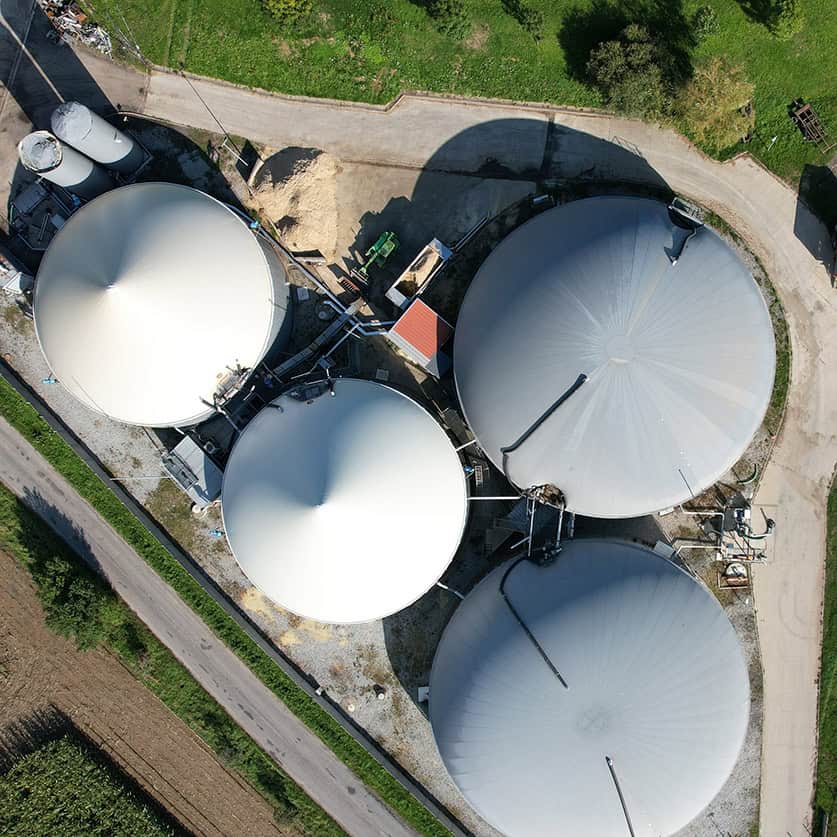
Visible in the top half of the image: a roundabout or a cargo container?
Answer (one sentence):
The feature located in the top half of the image is a cargo container.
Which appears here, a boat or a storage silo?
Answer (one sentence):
This aerial view contains a storage silo.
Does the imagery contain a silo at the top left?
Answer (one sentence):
Yes, looking at the top left, one can make out a silo.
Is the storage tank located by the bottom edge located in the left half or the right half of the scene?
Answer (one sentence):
The storage tank located by the bottom edge appears in the right half of the scene.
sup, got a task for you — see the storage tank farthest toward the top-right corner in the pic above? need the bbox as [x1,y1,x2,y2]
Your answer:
[454,197,775,517]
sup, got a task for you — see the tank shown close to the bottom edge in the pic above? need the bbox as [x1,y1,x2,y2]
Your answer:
[430,537,750,837]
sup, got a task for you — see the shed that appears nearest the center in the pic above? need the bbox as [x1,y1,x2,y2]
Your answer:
[381,296,457,374]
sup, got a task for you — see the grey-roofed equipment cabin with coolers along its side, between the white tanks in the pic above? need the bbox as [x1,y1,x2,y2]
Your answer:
[170,436,228,513]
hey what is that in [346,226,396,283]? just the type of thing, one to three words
work vehicle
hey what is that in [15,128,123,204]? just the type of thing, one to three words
silo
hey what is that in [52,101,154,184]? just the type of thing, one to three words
silo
